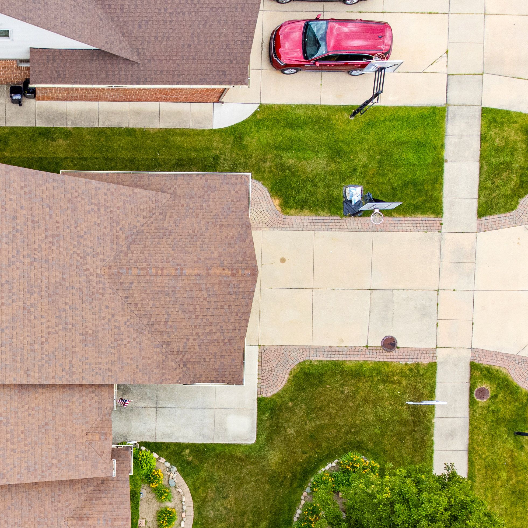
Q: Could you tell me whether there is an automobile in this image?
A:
Yes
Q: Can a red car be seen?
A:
Yes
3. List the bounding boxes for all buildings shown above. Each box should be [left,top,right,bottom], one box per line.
[0,163,259,528]
[0,0,261,110]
